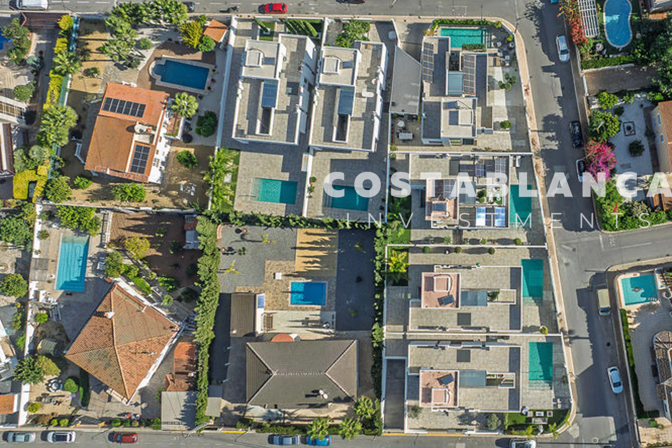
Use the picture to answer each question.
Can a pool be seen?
Yes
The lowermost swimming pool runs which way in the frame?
from top to bottom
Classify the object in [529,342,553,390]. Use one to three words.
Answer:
swimming pool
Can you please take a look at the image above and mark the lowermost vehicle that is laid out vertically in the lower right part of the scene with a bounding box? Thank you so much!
[607,367,620,391]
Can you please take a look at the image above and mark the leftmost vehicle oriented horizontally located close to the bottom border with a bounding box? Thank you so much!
[9,431,34,443]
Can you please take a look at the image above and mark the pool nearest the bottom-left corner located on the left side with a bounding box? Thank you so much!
[54,233,91,292]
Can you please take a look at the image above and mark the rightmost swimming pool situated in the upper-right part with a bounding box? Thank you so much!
[603,0,634,48]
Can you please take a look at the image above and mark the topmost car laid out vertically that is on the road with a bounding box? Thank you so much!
[556,35,570,61]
